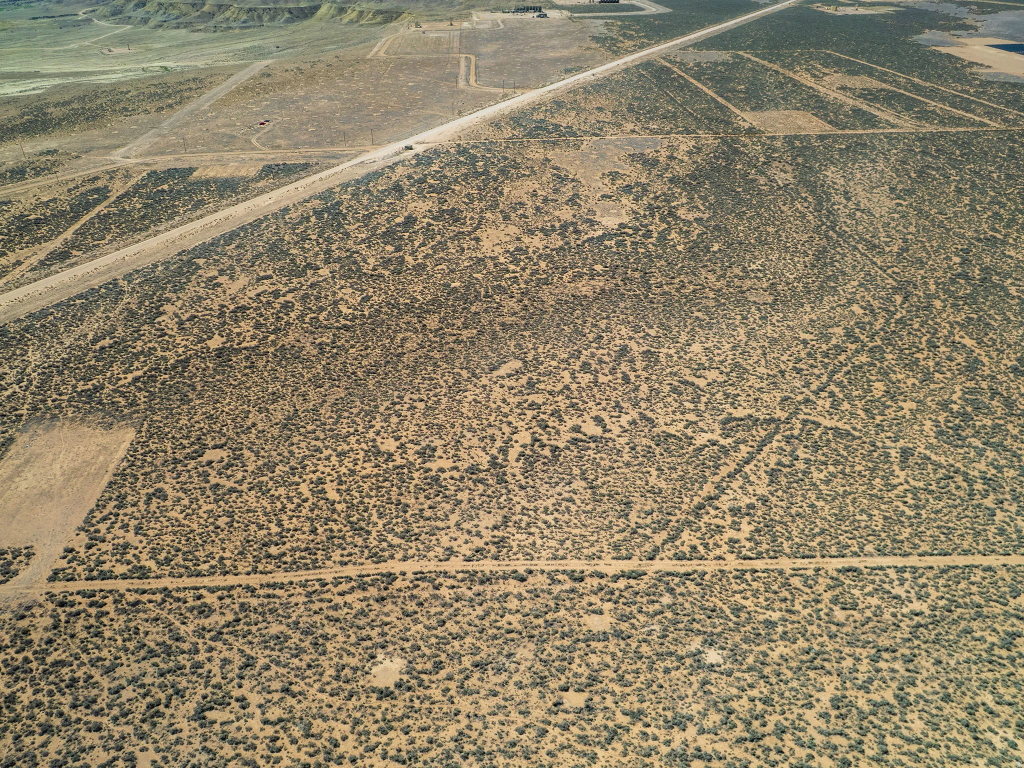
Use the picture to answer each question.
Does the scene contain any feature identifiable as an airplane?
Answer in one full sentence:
No, there is no airplane in the image.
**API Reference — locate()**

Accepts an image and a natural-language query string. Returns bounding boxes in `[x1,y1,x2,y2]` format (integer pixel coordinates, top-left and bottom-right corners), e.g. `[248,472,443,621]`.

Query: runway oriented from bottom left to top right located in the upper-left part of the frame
[116,60,276,156]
